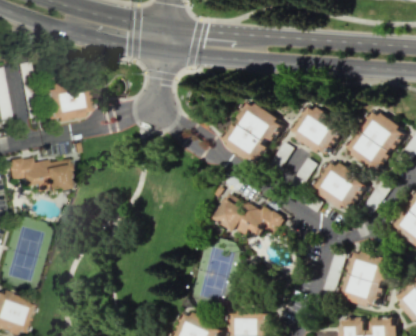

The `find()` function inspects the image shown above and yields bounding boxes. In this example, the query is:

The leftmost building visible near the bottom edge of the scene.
[0,290,41,334]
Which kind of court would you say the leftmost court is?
tennis court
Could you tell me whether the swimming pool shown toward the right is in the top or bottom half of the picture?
bottom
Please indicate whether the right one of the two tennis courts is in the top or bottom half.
bottom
